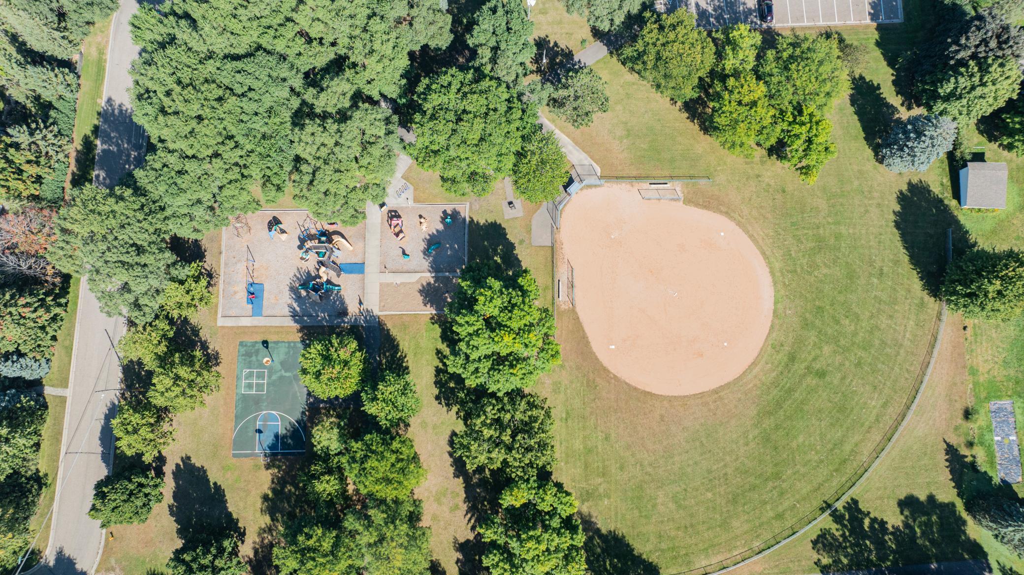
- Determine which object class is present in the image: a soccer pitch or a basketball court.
basketball court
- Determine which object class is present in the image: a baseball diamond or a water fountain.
baseball diamond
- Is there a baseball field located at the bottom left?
No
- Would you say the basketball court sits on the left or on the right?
left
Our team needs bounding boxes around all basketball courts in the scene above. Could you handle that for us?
[232,341,307,458]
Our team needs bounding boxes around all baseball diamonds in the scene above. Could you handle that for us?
[555,182,774,396]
